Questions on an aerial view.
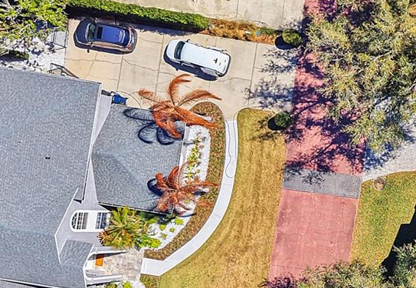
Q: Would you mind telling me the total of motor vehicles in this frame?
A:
two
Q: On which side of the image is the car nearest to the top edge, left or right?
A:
left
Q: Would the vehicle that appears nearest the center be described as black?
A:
No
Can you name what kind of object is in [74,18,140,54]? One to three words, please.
car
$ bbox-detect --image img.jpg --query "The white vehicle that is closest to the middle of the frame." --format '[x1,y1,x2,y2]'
[163,36,235,80]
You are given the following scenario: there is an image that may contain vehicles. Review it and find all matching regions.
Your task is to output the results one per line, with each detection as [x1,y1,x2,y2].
[163,36,235,80]
[74,18,140,54]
